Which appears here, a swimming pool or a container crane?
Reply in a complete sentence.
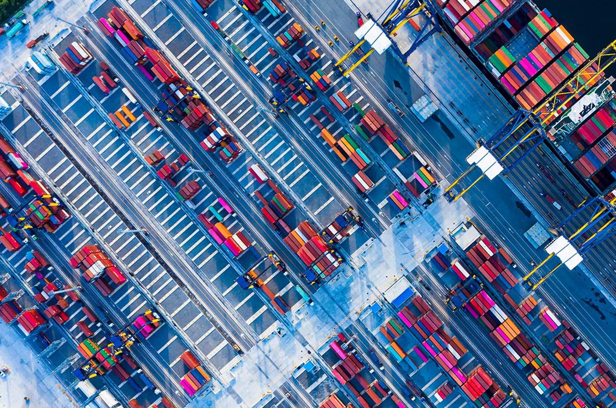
Of the two, only a container crane appears.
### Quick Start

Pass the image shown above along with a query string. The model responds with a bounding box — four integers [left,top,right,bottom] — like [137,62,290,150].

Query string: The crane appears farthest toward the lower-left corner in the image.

[72,341,128,381]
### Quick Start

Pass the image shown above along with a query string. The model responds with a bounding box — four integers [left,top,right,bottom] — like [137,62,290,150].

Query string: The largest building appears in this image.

[382,278,414,308]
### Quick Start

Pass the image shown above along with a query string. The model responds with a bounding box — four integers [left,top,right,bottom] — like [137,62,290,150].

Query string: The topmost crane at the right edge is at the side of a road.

[442,37,616,205]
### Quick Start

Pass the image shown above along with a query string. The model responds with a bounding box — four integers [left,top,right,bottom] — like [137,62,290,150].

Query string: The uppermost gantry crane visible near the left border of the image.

[5,192,63,229]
